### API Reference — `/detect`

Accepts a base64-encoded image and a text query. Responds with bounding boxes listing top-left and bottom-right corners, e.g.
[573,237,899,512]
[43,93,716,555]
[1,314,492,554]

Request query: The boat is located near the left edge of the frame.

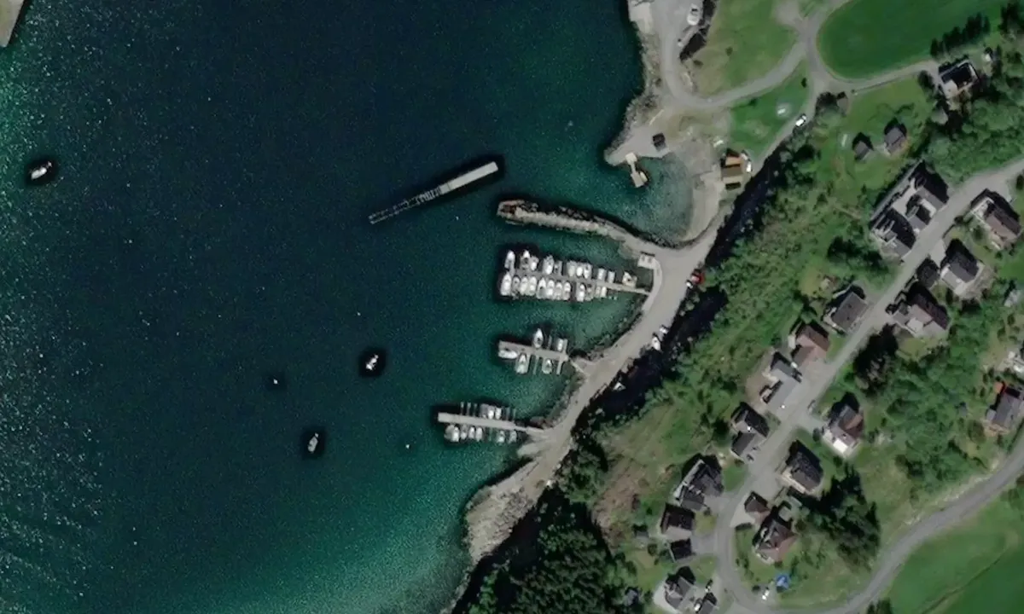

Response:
[30,168,46,180]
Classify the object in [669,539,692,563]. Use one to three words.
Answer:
building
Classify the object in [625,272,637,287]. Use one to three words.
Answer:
boat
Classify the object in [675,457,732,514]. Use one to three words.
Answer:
house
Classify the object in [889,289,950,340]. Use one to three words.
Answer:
house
